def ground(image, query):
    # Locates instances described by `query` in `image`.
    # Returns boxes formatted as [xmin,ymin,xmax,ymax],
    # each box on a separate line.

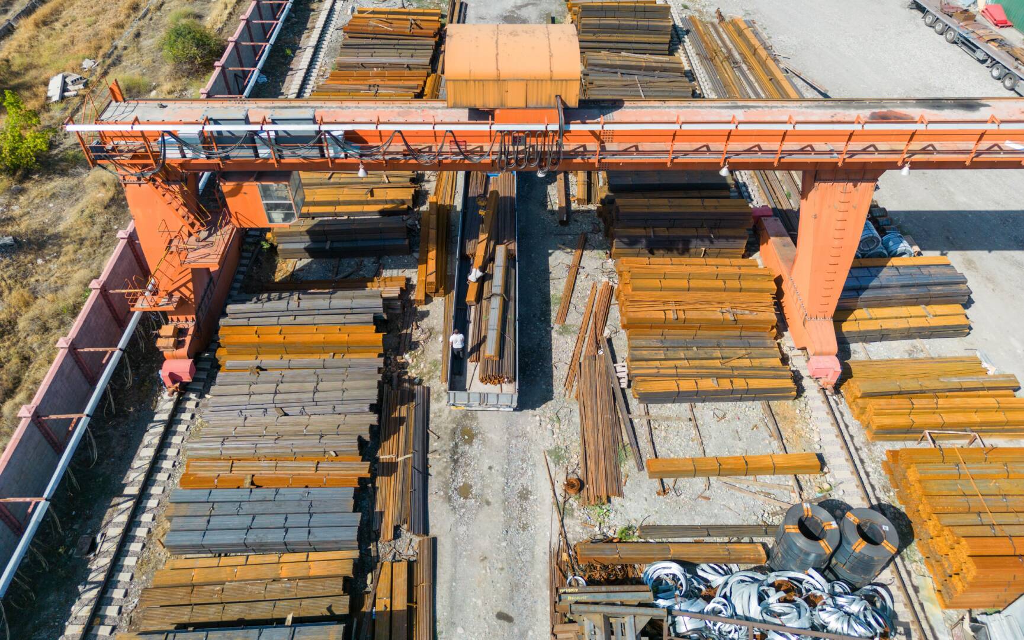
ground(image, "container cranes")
[58,69,1024,394]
